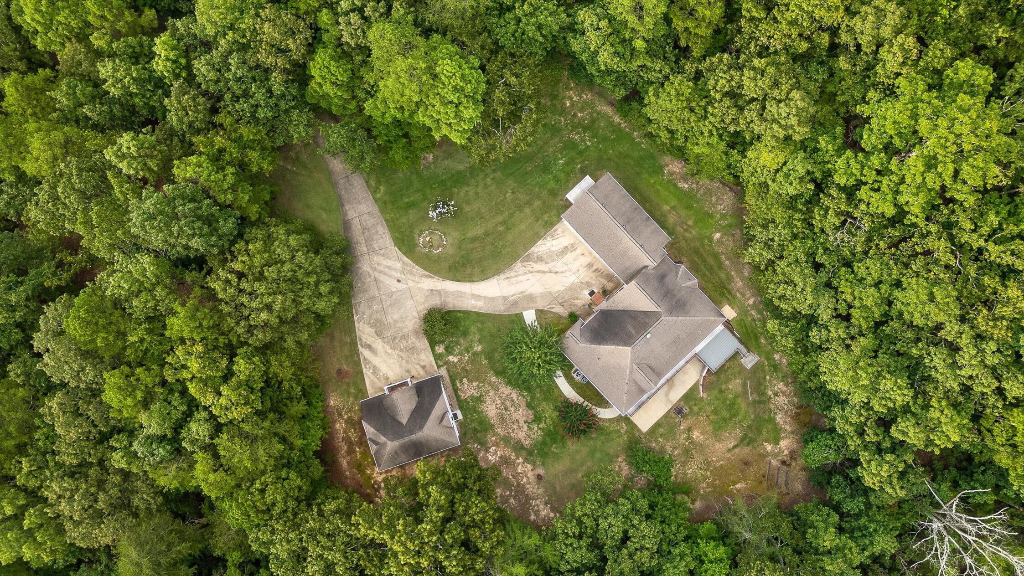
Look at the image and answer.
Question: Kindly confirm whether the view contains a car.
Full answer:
No, I find no car anywhere in the image.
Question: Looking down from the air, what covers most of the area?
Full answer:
For the most part, this view shows trees.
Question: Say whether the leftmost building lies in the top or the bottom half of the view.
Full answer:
Seen from above, the leftmost building lies in the bottom half of the view.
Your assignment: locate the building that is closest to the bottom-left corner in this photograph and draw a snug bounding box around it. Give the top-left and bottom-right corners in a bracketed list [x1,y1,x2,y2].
[360,373,461,473]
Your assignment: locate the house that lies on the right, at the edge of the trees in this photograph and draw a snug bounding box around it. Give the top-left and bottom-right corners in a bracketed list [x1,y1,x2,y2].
[558,172,727,415]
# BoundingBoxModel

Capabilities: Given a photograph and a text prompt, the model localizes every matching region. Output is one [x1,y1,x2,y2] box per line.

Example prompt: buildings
[558,172,727,415]
[360,373,461,473]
